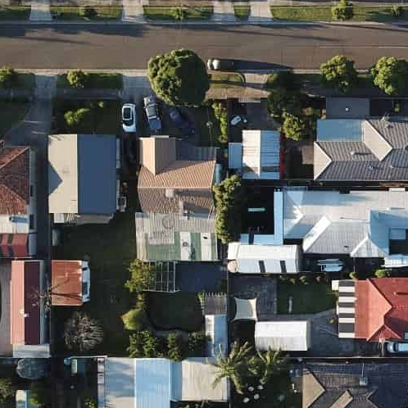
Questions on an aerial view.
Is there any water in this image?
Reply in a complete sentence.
No, no water is visible.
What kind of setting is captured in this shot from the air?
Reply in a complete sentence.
What you see here is a residential area.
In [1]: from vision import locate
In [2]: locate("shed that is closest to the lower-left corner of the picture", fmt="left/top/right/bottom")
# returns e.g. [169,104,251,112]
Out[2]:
[17,388,44,408]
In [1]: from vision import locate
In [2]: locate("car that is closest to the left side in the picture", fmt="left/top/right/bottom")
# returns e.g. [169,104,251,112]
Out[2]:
[120,100,139,134]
